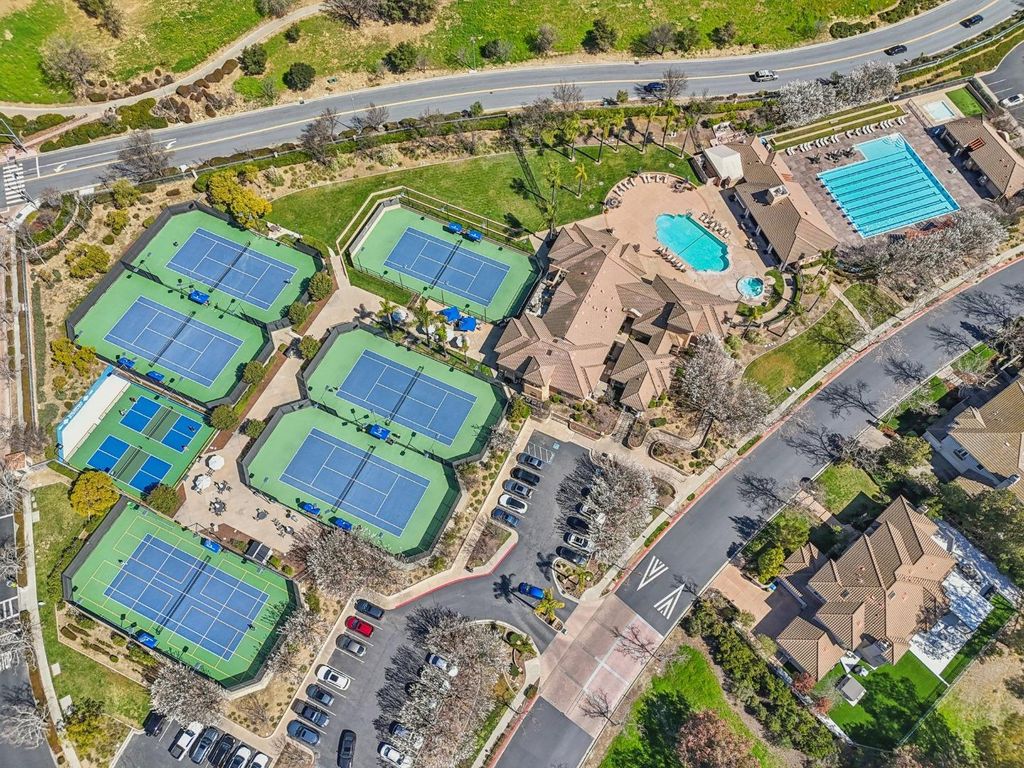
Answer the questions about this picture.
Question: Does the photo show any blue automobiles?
Yes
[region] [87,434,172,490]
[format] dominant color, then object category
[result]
blue sports court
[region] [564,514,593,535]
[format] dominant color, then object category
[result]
black car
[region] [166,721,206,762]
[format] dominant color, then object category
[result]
white truck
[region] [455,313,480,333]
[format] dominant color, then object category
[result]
blue umbrella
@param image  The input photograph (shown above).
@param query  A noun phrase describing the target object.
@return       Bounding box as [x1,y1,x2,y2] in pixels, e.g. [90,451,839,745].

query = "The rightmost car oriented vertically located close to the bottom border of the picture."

[339,731,356,767]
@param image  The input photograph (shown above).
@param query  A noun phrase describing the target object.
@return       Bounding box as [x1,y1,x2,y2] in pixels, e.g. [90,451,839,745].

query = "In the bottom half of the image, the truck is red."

[341,614,377,639]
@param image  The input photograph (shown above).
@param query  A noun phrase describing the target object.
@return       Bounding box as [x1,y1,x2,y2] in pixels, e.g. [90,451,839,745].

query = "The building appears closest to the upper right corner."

[941,105,1024,198]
